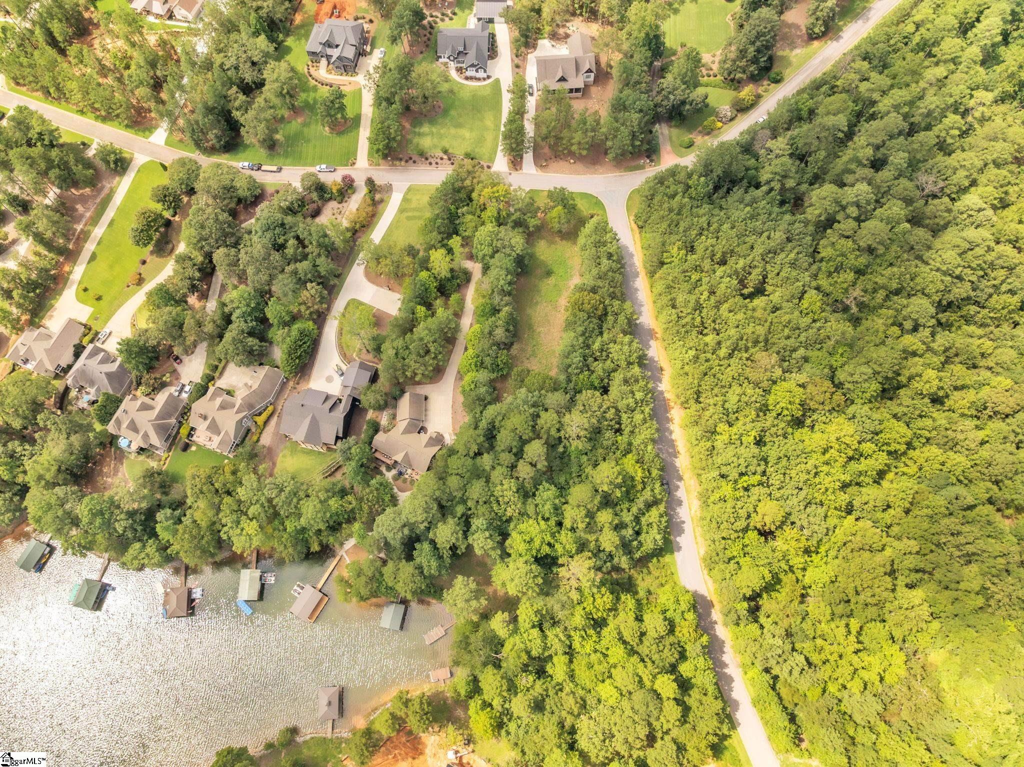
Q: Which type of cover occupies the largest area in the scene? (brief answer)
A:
trees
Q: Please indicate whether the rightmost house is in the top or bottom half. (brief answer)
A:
top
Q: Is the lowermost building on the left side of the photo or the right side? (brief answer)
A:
left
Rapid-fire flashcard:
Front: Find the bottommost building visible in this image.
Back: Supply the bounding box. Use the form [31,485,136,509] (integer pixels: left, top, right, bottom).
[318,686,344,735]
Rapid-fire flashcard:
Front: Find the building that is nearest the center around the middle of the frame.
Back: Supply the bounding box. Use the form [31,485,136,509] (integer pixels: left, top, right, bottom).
[371,392,444,479]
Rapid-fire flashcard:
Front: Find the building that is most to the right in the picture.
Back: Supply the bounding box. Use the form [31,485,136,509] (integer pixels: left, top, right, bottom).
[535,32,596,97]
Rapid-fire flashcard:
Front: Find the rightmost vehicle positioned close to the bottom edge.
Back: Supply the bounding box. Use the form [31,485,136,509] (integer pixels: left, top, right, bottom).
[447,747,476,764]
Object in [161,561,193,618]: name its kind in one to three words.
building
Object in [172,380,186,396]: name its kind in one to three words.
car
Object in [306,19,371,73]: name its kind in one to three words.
house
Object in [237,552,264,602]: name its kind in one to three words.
building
